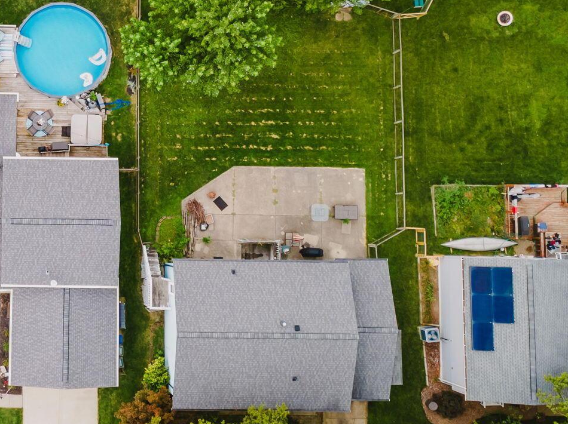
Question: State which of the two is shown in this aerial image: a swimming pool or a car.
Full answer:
There is a swimming pool in the scene.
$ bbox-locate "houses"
[440,251,568,408]
[164,257,403,413]
[0,92,121,389]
